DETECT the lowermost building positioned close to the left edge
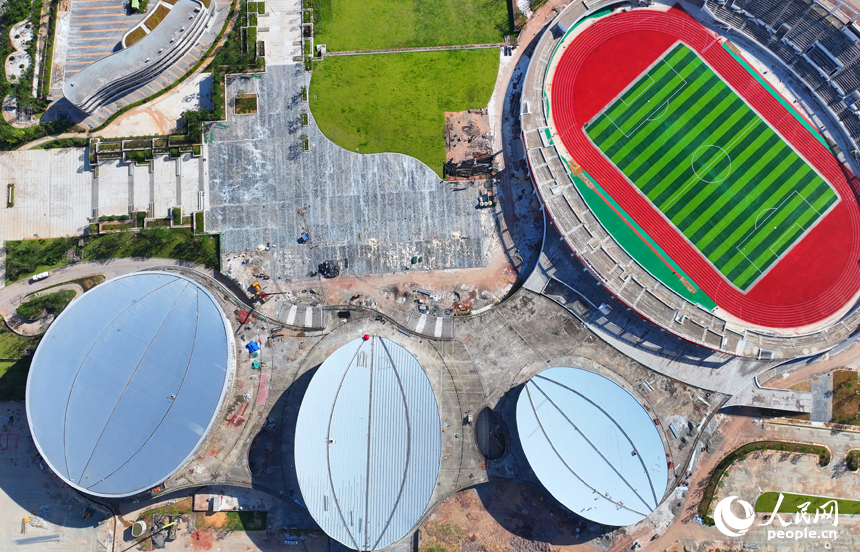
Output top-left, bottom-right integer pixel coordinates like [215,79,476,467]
[24,271,243,497]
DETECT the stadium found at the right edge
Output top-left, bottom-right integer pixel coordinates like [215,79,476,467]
[518,0,860,363]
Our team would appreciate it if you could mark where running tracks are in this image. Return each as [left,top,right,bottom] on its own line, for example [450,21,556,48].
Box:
[548,0,860,325]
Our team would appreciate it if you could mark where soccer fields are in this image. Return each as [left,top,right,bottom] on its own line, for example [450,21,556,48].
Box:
[584,39,840,292]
